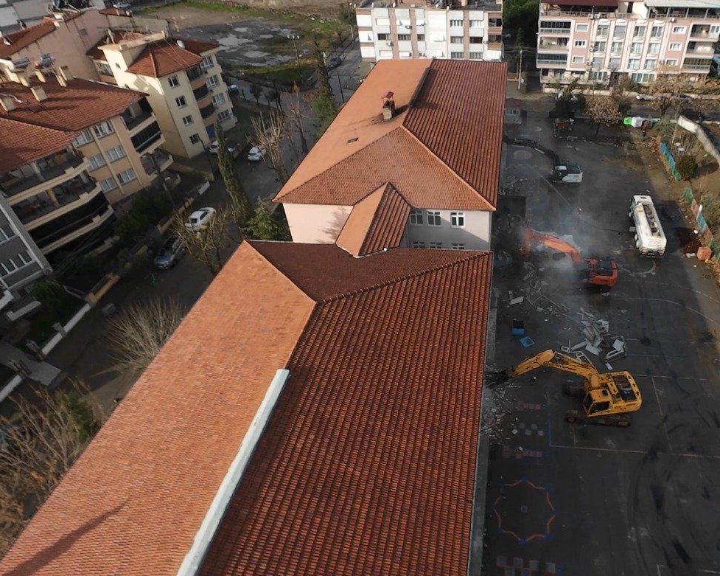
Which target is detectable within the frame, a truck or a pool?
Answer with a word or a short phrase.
truck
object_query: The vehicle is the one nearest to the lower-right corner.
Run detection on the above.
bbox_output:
[494,351,646,425]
